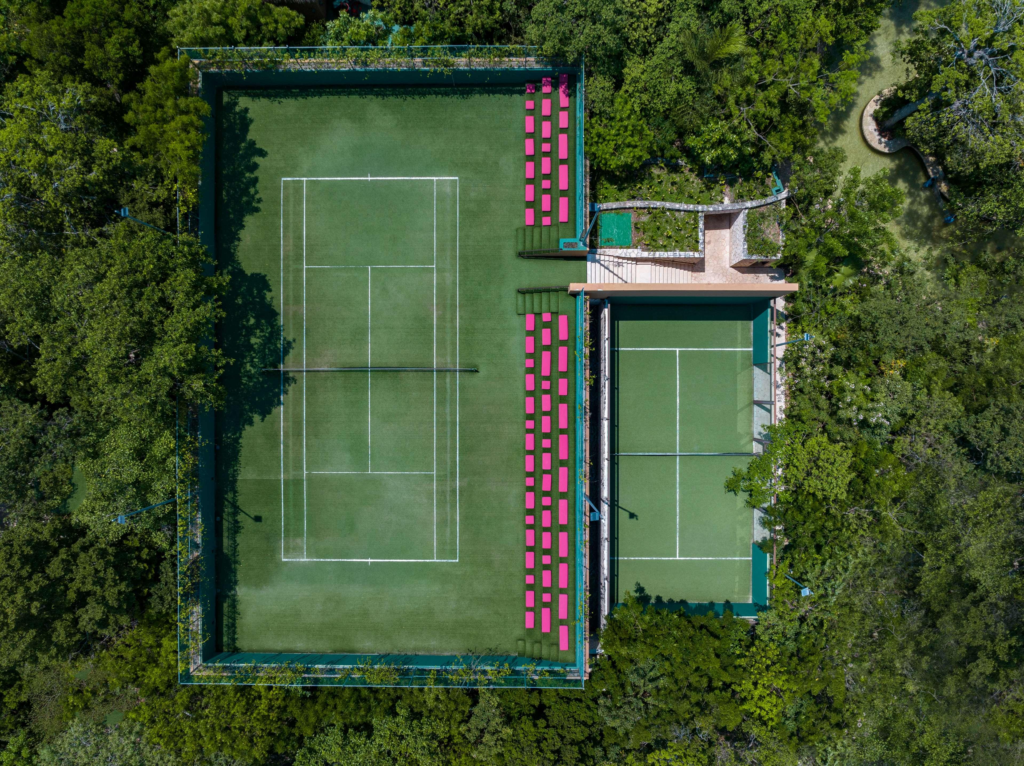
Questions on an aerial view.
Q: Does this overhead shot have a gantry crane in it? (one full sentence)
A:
No, there appears to be no gantry crane in this shot.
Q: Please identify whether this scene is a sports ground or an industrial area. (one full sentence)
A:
This looks like a sports ground.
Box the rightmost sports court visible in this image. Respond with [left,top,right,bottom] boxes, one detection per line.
[610,304,754,605]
